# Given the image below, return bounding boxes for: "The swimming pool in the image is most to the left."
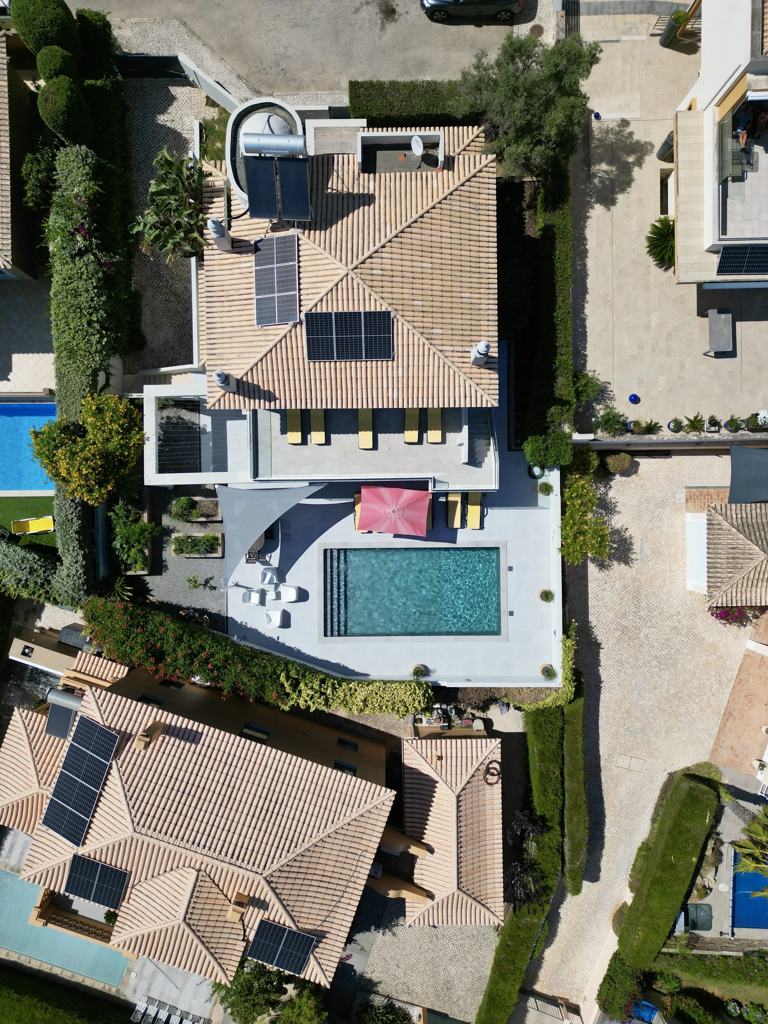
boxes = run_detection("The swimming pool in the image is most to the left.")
[0,400,62,498]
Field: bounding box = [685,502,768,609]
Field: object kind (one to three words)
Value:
shed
